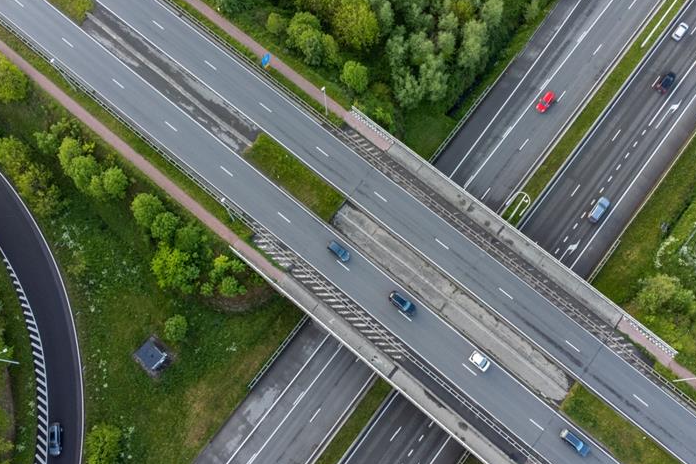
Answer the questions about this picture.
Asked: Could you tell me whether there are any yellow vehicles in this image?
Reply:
No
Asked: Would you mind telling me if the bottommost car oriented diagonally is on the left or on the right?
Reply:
right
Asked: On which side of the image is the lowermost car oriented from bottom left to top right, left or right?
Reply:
right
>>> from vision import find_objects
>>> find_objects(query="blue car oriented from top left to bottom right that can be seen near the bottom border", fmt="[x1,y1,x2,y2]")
[556,426,591,458]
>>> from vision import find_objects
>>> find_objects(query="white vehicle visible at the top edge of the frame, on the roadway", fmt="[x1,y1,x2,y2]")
[669,21,689,42]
